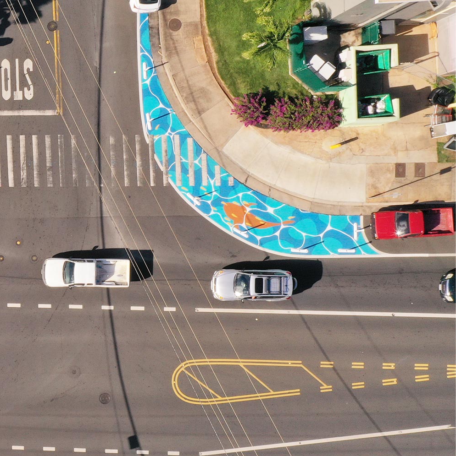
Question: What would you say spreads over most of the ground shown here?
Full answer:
The largest share of the image is taken up by paved ground.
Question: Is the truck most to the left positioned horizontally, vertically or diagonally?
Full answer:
From this overhead view, the truck most to the left appears to run horizontally.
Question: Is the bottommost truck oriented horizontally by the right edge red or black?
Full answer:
From above, the bottommost truck oriented horizontally by the right edge appears red.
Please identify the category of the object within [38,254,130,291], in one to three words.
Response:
truck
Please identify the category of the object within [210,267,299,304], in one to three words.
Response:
car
